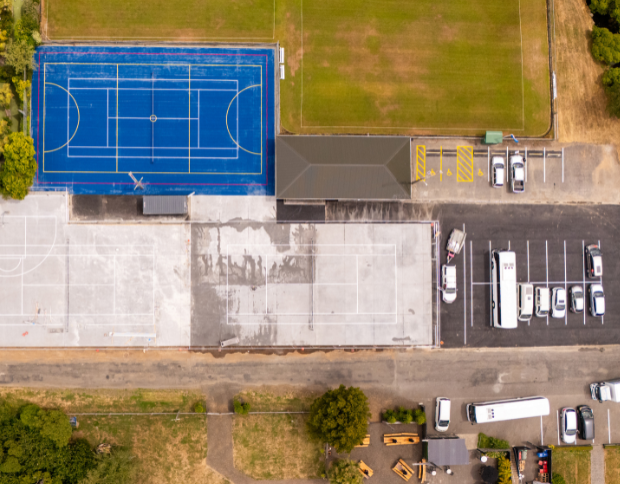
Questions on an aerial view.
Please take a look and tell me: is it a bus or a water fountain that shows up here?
bus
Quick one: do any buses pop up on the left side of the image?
No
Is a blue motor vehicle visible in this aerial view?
No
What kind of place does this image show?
sports ground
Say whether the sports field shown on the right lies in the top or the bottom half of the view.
top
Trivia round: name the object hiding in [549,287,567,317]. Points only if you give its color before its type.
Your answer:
white car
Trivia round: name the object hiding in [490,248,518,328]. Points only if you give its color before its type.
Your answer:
white bus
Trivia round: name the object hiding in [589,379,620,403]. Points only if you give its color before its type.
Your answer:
white truck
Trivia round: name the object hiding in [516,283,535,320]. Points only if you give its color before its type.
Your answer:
white vehicle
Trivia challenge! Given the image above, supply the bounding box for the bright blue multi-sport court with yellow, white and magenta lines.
[31,46,275,194]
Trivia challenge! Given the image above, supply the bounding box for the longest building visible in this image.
[275,134,412,200]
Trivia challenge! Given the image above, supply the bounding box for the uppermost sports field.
[42,0,277,43]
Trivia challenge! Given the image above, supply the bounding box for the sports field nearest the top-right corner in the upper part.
[277,0,550,136]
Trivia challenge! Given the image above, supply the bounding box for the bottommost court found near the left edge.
[0,190,190,348]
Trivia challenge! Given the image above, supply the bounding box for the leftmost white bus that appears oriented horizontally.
[467,395,550,428]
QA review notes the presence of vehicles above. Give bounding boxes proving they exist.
[587,283,605,317]
[568,285,585,313]
[575,404,595,440]
[584,244,602,279]
[435,396,452,431]
[490,156,507,188]
[490,248,518,328]
[549,287,567,317]
[467,395,550,428]
[516,283,535,320]
[534,287,551,317]
[509,154,527,193]
[589,379,620,403]
[441,264,459,302]
[559,406,578,442]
